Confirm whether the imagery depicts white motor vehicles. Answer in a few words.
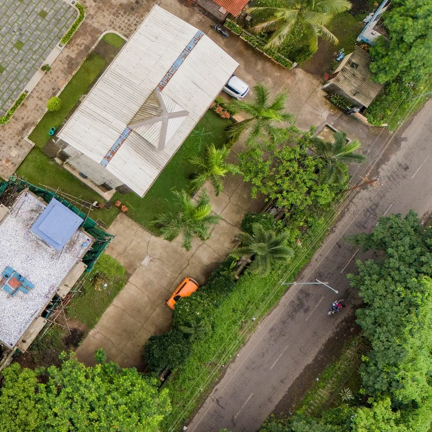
Yes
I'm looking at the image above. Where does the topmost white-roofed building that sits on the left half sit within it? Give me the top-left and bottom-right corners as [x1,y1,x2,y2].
[54,3,239,201]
